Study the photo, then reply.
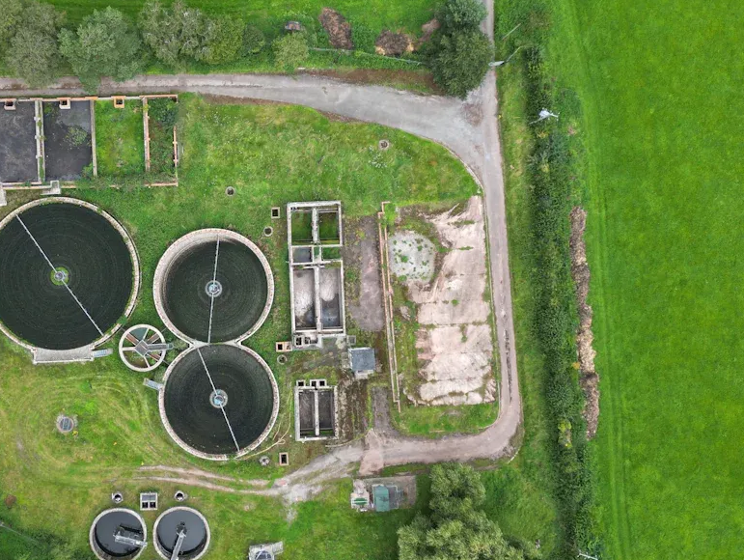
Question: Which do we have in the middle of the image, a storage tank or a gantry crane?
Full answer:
The one visible in the middle of the image is a storage tank.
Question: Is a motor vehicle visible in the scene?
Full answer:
No, no motor vehicle is visible in the scene.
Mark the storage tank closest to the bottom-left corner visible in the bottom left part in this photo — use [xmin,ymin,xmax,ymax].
[88,507,147,560]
